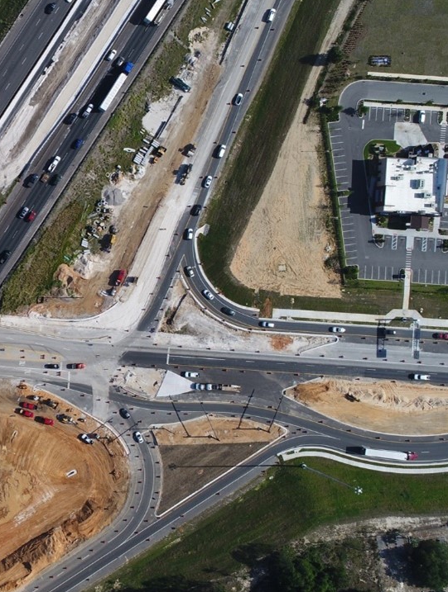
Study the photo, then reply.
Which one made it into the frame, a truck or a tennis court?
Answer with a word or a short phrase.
truck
